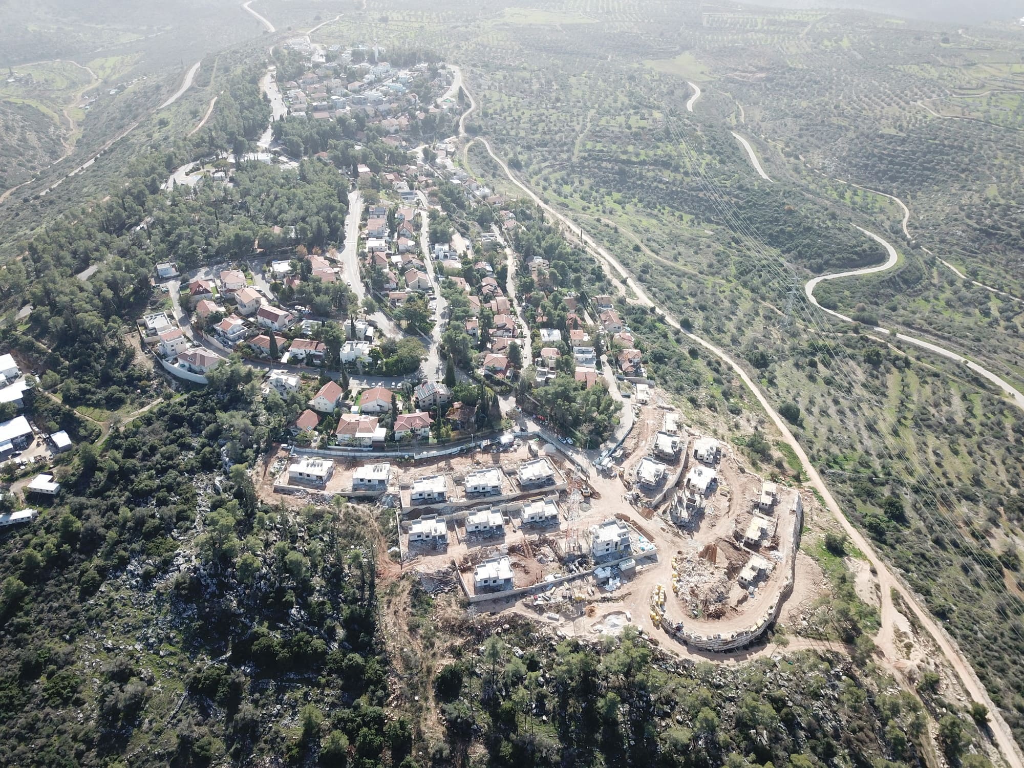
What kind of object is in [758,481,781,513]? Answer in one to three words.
house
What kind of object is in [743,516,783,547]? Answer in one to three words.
house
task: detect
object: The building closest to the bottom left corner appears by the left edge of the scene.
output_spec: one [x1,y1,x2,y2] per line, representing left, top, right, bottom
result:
[0,502,42,530]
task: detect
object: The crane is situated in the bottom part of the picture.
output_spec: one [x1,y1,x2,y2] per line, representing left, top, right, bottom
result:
[559,445,581,590]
